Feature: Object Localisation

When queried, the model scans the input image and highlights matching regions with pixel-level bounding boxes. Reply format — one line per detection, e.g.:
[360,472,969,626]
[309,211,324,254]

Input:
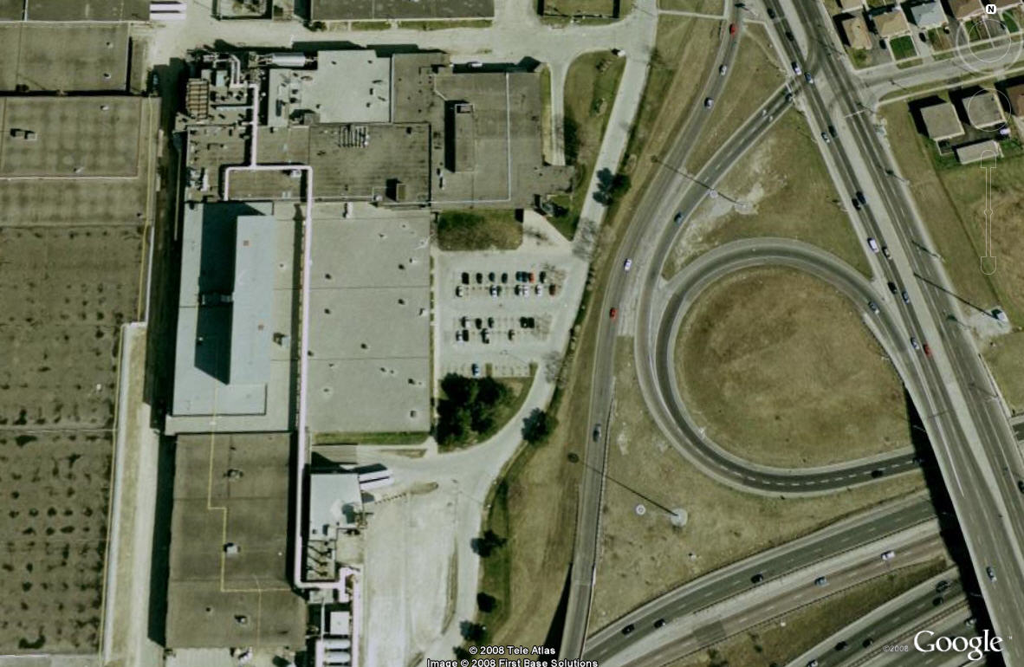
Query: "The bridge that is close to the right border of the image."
[905,372,1024,667]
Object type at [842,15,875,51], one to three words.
house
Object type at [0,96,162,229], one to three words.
building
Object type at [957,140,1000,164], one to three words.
building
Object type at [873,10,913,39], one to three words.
house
